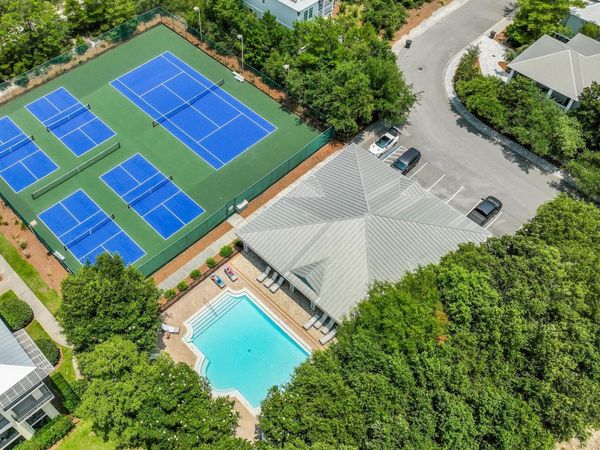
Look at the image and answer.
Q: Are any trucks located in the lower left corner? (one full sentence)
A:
No, I can find no truck in the lower left corner.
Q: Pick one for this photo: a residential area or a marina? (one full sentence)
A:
The picture captures a residential area.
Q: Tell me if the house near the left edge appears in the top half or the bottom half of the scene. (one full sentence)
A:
The bottom half of the photo is where the house near the left edge is.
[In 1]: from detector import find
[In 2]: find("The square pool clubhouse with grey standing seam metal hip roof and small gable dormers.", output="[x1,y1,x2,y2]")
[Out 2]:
[236,146,493,327]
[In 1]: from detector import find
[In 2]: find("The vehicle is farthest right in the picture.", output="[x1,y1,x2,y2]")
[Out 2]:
[466,195,503,229]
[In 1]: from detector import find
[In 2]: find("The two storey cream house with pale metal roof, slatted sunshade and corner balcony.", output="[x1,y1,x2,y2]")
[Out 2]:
[0,321,59,444]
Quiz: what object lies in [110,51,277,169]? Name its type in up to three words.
tennis court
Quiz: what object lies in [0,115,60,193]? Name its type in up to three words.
sports court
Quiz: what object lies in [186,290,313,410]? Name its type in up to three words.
swimming pool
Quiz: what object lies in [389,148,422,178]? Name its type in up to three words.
car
